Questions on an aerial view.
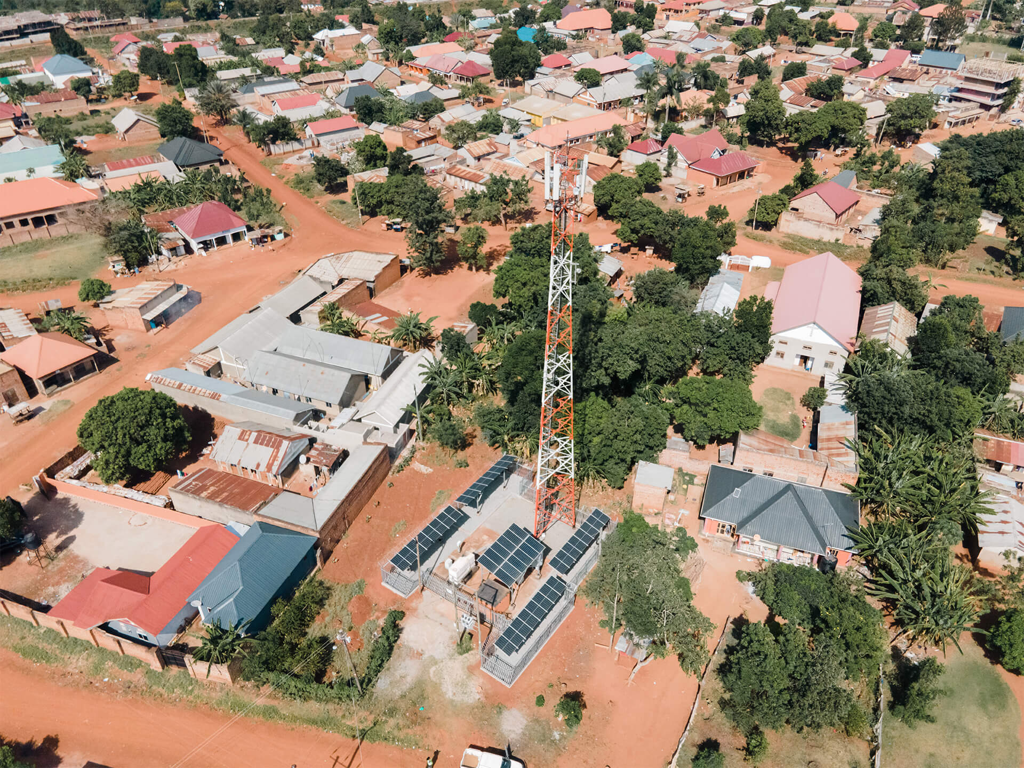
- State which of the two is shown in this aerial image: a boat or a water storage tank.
water storage tank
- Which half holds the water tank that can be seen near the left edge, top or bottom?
bottom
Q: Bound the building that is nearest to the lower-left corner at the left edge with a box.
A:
[49,565,142,646]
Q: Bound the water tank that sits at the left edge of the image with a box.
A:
[15,527,54,571]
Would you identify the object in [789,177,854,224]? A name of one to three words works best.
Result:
house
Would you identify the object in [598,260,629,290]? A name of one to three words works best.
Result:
shed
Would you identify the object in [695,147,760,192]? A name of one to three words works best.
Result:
house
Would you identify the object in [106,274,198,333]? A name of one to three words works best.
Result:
building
